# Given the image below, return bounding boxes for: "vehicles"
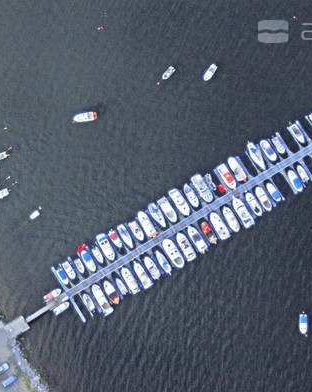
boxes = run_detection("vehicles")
[3,374,19,386]
[0,362,11,374]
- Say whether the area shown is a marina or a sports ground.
marina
